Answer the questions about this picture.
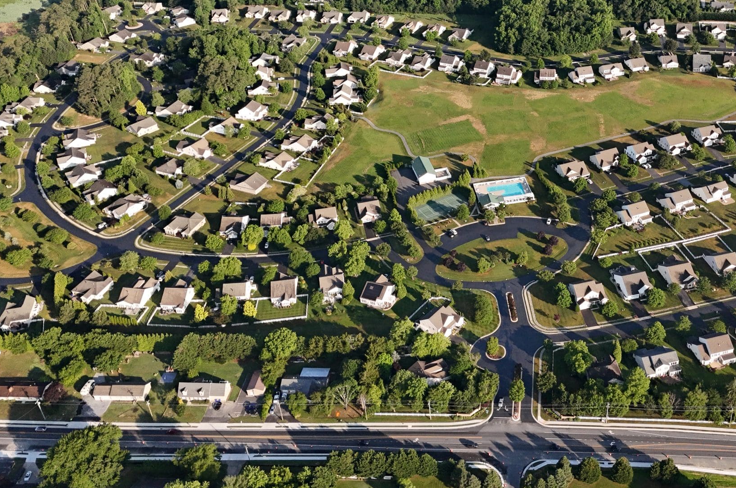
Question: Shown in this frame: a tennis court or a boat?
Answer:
tennis court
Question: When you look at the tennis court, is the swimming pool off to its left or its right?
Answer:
to the right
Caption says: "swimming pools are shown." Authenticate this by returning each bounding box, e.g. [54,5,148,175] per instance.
[473,179,533,202]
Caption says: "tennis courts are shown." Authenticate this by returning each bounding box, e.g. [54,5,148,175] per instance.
[415,193,468,221]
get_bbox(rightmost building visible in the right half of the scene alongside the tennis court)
[476,192,504,210]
